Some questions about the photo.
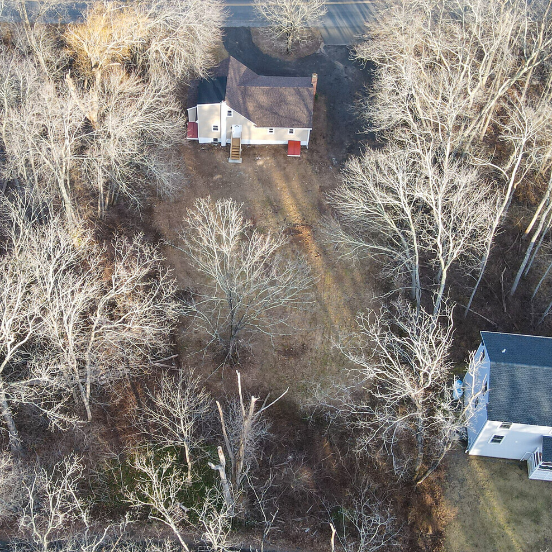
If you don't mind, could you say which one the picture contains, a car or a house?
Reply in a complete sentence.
The image shows a house.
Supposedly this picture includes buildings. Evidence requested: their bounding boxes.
[185,53,317,163]
[463,332,552,482]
